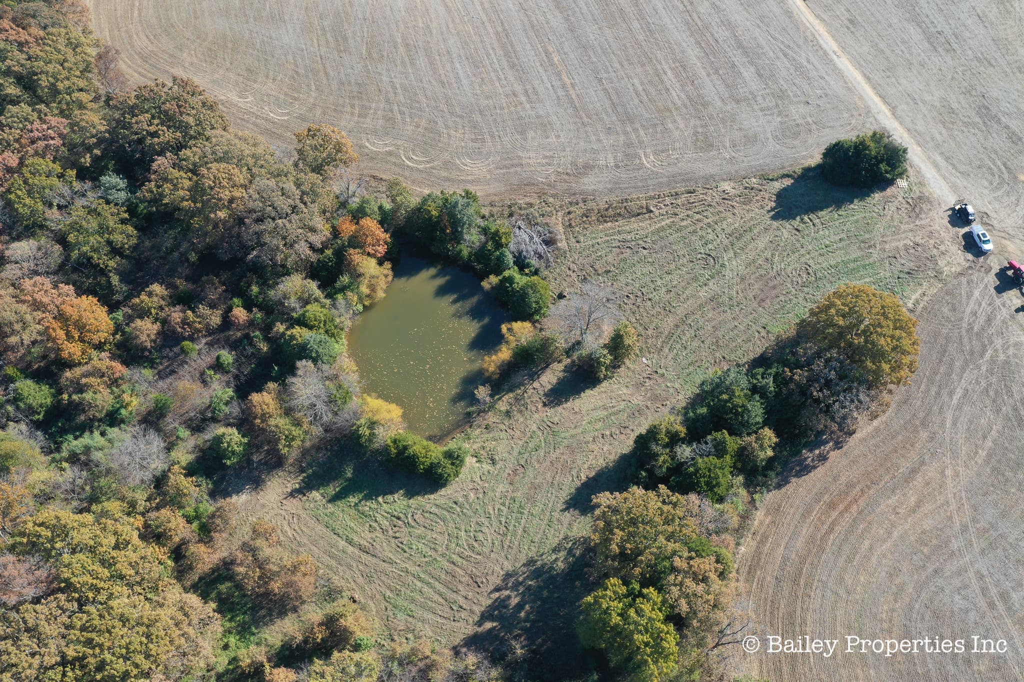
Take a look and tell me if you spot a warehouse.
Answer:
No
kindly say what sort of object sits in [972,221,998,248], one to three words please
truck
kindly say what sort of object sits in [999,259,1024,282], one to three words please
work vehicle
